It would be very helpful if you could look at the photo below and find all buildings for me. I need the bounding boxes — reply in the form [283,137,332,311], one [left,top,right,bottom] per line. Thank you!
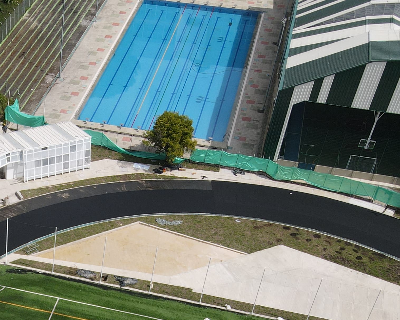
[0,122,93,183]
[260,0,400,187]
